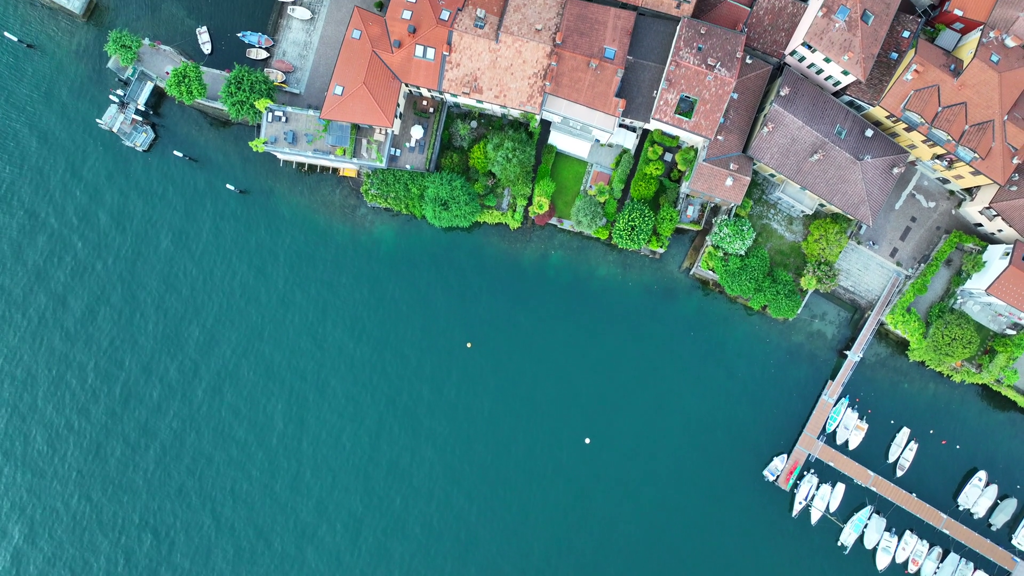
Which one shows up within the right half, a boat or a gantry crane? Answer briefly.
boat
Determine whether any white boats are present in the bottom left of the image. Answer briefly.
No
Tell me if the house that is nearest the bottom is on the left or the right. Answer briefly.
right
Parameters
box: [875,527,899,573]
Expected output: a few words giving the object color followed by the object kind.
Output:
white boat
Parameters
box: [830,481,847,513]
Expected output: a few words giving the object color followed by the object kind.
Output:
white boat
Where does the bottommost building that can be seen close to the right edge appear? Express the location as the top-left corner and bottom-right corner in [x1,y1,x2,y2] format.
[960,239,1024,326]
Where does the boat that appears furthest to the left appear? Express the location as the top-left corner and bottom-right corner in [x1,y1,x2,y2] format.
[195,24,210,55]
